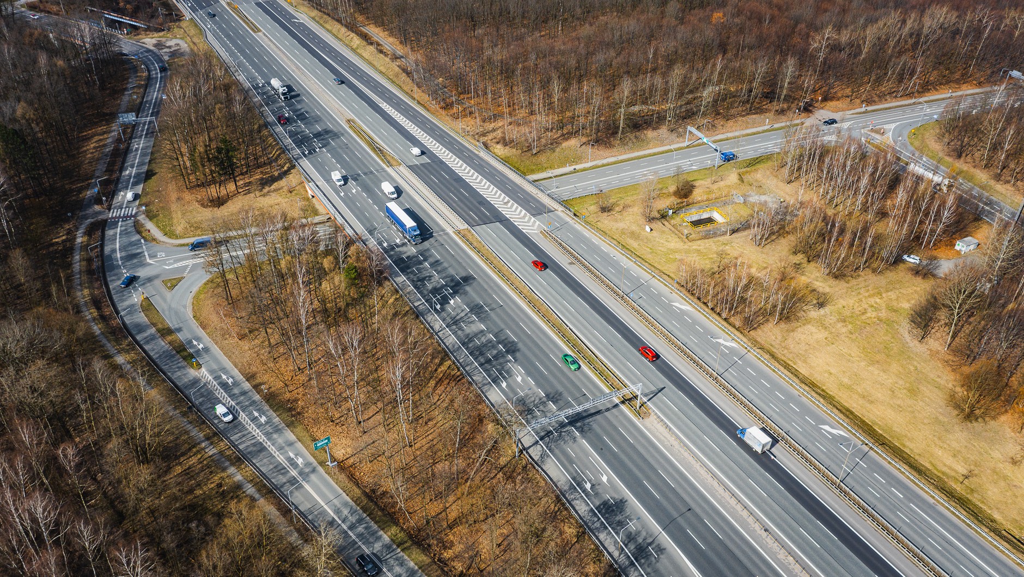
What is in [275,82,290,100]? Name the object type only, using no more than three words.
vehicle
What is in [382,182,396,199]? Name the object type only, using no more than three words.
vehicle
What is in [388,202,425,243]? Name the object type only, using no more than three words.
truck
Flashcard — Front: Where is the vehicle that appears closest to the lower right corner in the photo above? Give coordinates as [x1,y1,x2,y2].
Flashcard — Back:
[731,424,768,455]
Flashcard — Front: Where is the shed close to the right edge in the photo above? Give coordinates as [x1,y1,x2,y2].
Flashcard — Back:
[953,238,982,259]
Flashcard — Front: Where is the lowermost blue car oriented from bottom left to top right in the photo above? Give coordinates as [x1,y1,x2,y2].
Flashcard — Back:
[118,274,136,286]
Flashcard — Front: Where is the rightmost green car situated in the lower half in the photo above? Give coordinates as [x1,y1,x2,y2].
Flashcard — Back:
[560,354,578,371]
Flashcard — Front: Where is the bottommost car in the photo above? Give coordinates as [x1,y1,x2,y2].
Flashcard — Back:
[352,551,376,576]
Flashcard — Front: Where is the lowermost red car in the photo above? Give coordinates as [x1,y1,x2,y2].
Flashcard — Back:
[638,344,658,360]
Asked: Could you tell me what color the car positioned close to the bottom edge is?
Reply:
black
